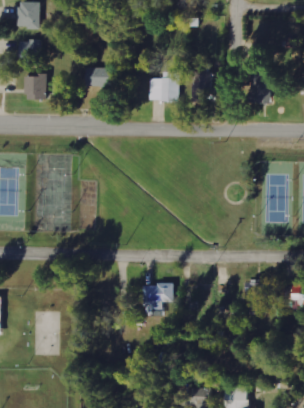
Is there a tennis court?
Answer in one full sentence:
Yes, the frame does contain a tennis court.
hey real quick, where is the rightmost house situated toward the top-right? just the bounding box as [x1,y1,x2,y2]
[252,82,274,105]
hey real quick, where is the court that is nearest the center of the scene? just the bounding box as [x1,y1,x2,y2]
[80,181,96,230]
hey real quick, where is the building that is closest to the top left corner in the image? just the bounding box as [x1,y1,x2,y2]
[17,2,42,29]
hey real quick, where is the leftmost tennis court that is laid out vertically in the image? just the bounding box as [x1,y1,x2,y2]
[0,153,26,230]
